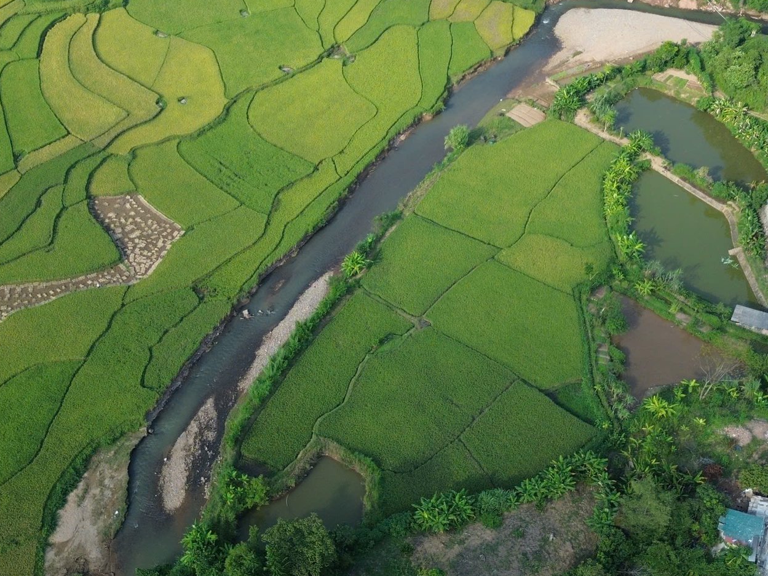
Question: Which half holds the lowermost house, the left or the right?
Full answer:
The lowermost house is on the right side of the image.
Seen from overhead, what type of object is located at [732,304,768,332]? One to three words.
shed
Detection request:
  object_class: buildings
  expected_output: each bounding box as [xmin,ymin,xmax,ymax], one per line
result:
[732,304,768,332]
[717,508,768,552]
